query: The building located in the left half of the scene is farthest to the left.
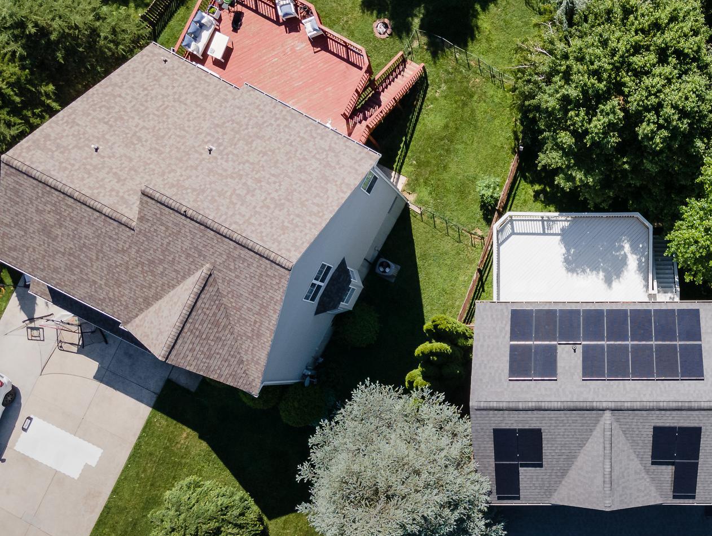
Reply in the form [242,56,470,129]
[0,42,414,397]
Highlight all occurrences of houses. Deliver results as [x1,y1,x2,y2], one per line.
[469,299,712,536]
[0,42,414,397]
